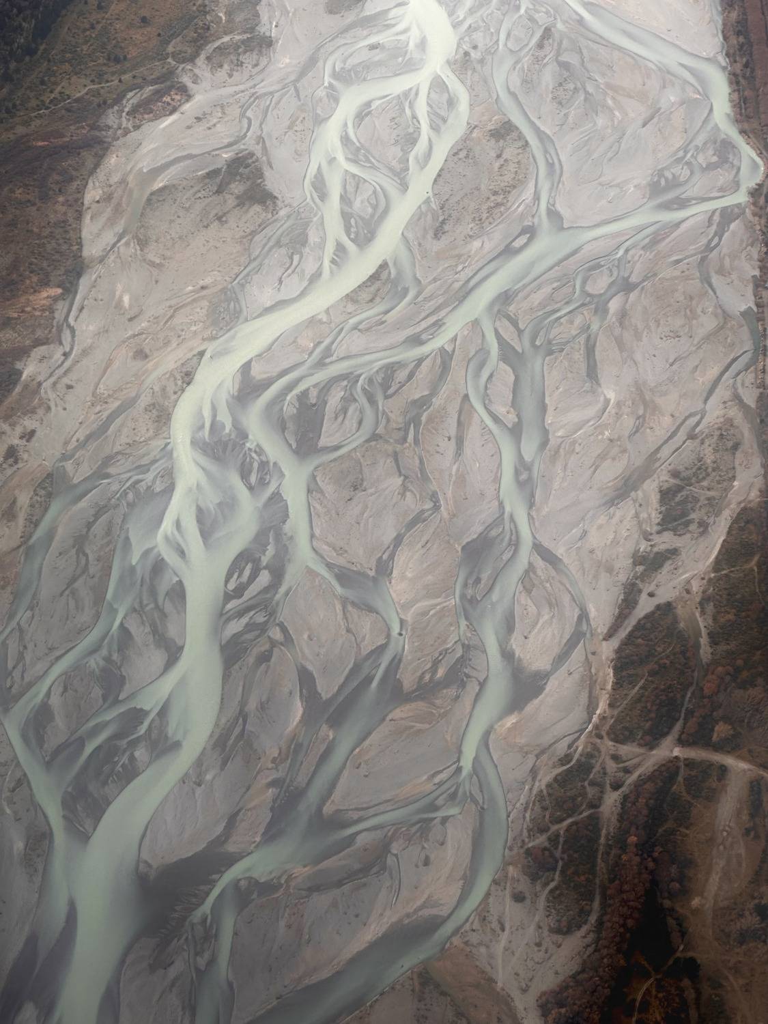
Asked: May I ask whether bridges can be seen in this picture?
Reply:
No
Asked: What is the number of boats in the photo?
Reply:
0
